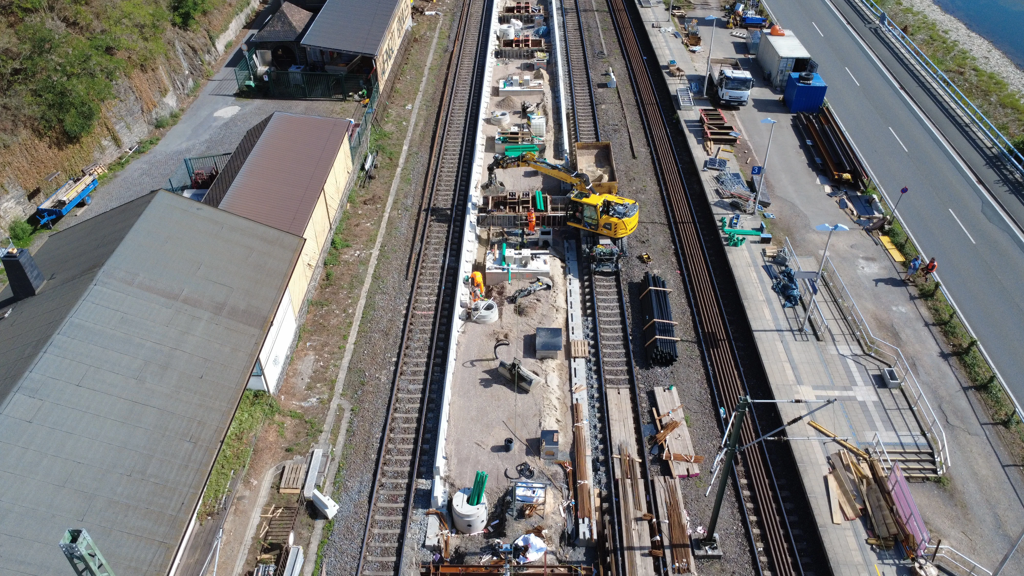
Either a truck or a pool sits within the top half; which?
truck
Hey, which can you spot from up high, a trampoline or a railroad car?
railroad car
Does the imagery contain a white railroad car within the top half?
No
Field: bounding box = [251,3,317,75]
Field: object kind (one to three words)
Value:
house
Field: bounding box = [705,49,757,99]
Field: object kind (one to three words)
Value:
truck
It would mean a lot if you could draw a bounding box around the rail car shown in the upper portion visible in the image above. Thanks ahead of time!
[574,141,619,196]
